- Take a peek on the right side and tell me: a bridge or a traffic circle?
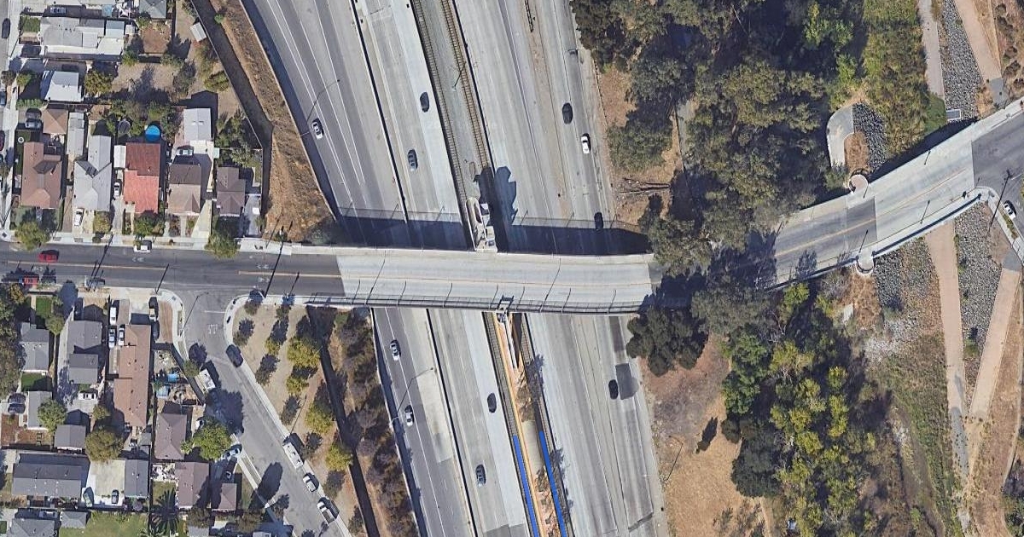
bridge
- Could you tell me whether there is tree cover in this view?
Yes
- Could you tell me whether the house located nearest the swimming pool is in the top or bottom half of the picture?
top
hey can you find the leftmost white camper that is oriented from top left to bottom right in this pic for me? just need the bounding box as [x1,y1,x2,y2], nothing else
[197,368,217,393]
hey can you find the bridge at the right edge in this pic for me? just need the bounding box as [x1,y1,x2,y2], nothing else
[748,122,983,297]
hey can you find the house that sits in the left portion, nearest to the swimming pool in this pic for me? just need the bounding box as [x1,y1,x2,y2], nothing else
[124,142,160,213]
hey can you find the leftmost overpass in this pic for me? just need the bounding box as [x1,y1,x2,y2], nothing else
[292,245,655,315]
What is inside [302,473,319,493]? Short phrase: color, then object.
white car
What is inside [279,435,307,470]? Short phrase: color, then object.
white camper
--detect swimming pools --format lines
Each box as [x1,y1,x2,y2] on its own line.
[144,124,162,142]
